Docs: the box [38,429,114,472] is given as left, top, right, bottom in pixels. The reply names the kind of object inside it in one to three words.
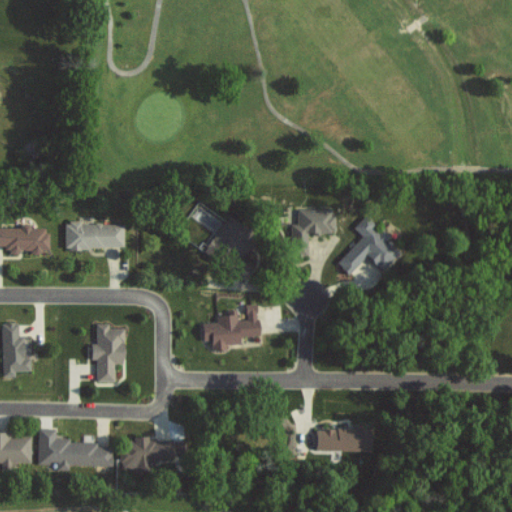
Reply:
house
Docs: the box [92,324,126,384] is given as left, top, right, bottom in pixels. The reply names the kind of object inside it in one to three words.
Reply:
house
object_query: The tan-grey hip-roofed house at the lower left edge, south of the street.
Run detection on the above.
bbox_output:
[0,433,32,470]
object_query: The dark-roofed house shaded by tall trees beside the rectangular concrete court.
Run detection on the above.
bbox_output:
[208,222,264,262]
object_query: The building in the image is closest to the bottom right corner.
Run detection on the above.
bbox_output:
[318,422,374,452]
